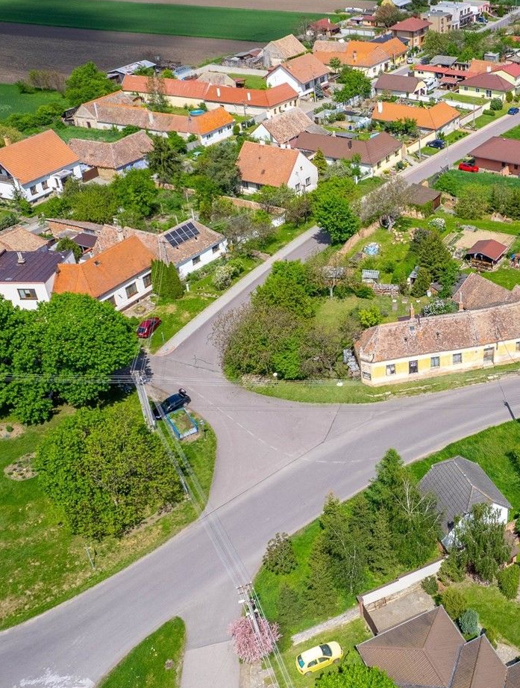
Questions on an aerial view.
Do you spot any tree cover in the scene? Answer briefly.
Yes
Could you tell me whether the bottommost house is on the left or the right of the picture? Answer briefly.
right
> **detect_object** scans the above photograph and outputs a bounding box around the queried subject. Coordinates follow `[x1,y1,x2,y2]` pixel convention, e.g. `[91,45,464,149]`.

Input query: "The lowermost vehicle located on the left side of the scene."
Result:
[154,381,188,412]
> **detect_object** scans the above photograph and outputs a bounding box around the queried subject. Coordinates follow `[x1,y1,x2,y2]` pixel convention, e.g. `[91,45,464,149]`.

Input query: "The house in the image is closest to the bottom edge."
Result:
[354,604,520,688]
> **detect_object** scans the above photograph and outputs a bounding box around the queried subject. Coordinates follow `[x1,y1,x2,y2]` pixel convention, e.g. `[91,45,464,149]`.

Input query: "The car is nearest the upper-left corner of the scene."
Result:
[136,317,160,334]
